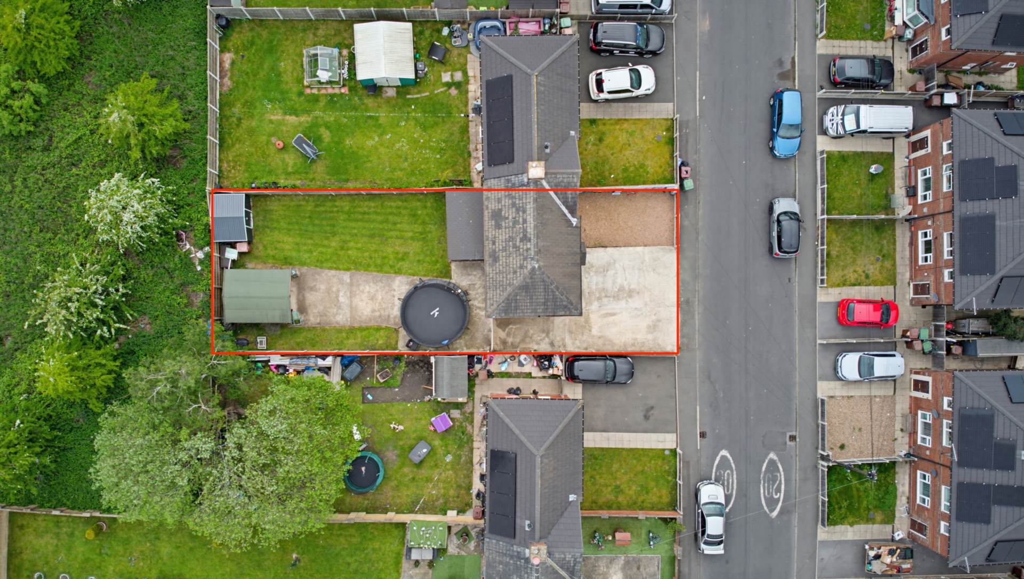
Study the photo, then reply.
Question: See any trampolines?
Yes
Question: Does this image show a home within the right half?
Yes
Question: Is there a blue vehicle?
Yes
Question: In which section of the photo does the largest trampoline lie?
center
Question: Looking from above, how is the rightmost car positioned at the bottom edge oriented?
from top to bottom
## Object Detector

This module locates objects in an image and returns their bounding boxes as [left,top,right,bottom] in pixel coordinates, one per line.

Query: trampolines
[345,450,385,494]
[401,280,470,348]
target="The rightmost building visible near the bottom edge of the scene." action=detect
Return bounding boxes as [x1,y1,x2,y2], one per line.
[899,367,1024,571]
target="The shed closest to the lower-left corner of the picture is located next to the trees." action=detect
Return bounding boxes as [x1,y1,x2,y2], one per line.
[222,268,299,323]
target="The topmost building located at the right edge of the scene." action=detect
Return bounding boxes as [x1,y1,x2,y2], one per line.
[902,0,1024,75]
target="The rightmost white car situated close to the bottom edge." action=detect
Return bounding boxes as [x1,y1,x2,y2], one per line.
[694,477,730,553]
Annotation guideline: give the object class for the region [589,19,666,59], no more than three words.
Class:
car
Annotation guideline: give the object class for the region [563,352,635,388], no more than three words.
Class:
car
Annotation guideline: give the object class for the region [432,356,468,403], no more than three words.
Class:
shed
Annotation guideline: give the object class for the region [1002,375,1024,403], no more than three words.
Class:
solar panel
